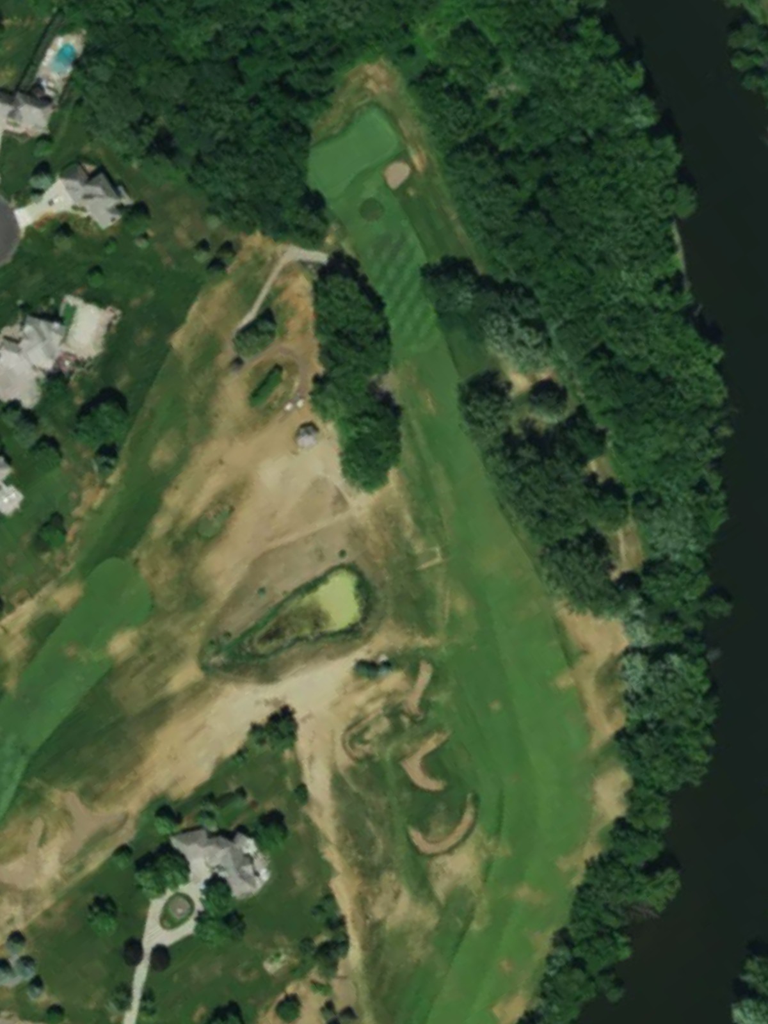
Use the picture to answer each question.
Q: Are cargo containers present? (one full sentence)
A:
No, this view has no cargo container in it.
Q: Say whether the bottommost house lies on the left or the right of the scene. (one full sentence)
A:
The bottommost house is on the left side of the image.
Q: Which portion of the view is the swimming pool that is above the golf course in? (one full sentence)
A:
The swimming pool that is above the golf course is in the top left part of the image.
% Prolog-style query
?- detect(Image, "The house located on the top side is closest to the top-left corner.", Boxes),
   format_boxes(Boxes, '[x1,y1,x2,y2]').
[0,87,53,137]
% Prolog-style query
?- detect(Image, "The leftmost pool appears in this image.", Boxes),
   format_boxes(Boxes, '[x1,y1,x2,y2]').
[52,42,76,72]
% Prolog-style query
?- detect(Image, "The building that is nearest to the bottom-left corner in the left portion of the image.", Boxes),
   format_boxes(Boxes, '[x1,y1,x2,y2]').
[169,829,260,900]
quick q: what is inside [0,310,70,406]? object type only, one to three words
house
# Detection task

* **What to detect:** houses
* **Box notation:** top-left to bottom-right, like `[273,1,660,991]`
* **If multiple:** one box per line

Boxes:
[0,465,25,516]
[169,829,260,900]
[0,310,70,406]
[57,162,124,230]
[0,87,53,137]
